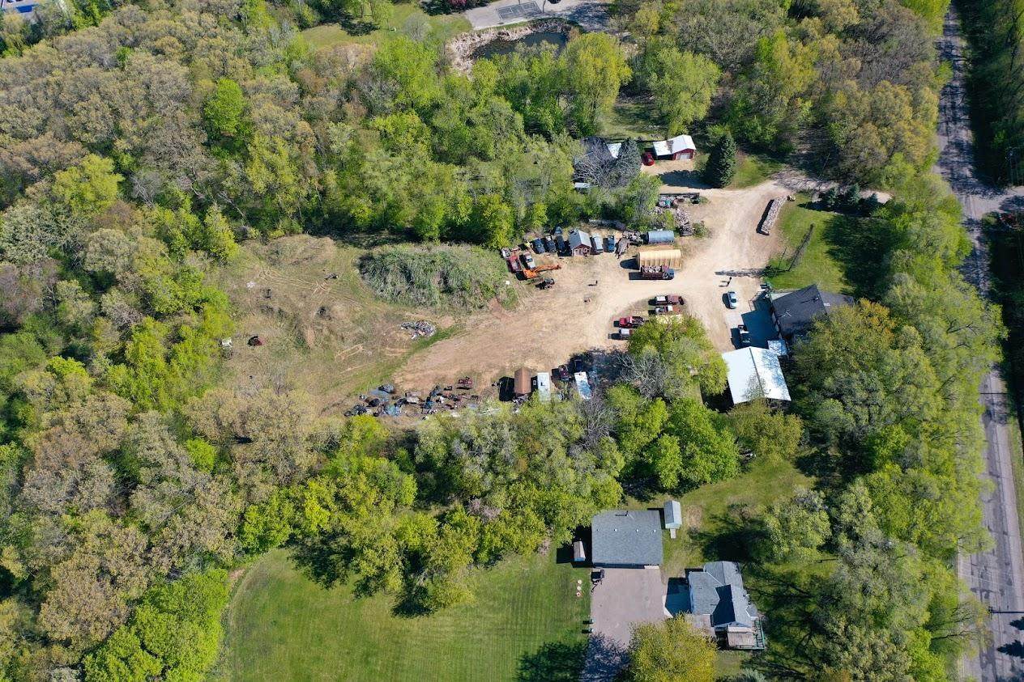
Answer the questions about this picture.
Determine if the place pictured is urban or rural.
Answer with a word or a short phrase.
rural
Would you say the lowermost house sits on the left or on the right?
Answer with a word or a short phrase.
right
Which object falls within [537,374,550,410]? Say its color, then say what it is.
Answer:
white vehicle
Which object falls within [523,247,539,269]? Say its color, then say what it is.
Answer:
white vehicle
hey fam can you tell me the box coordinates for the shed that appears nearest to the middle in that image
[514,367,533,398]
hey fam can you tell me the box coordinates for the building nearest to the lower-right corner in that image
[687,562,758,628]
